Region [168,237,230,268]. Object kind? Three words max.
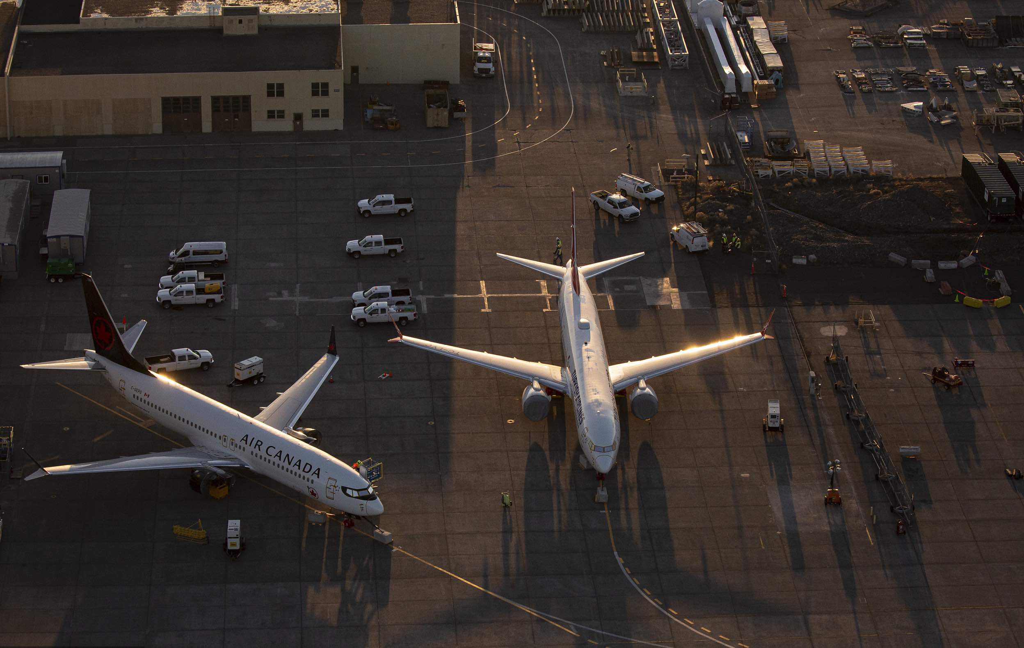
van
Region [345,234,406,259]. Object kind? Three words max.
truck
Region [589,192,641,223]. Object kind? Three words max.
truck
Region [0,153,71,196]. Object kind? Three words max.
building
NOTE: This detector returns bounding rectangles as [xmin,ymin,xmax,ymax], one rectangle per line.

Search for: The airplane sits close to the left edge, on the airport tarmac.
[20,273,383,528]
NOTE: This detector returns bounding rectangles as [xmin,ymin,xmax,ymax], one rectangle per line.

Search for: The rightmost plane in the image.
[389,190,776,473]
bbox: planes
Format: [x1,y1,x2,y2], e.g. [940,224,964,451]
[389,190,776,473]
[20,273,383,528]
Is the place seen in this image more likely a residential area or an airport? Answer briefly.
airport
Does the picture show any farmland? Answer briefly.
No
